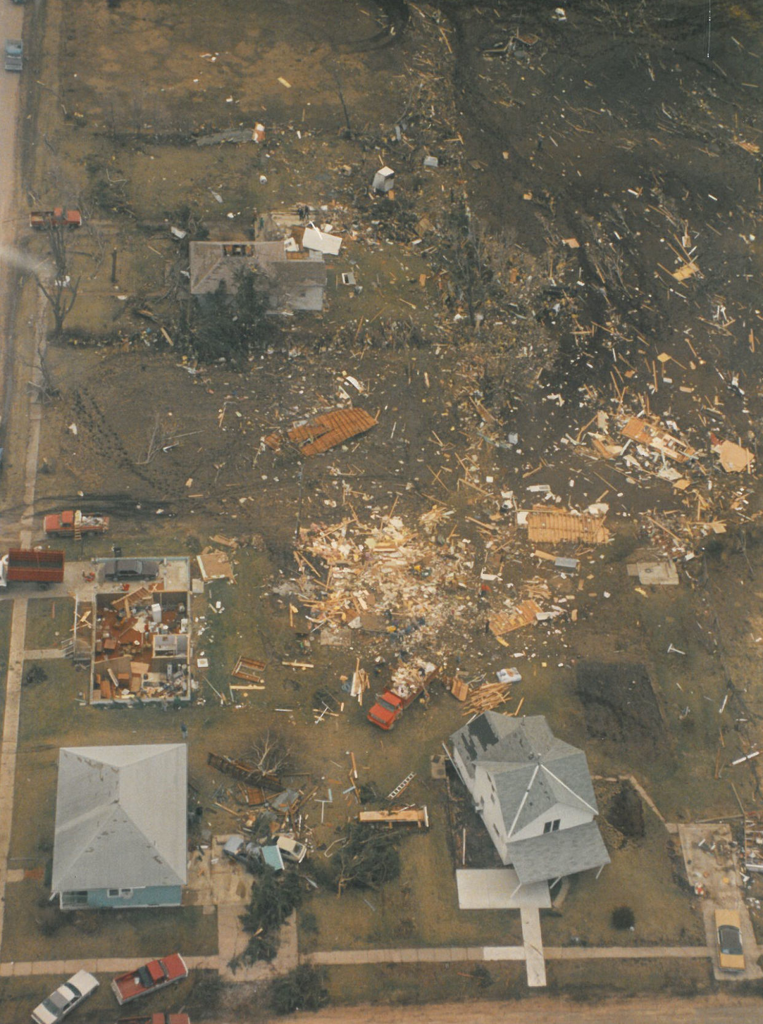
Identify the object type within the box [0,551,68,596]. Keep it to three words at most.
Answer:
truck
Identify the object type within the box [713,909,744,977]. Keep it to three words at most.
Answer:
car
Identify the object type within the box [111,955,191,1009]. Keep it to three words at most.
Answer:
truck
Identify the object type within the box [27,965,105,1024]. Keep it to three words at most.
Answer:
car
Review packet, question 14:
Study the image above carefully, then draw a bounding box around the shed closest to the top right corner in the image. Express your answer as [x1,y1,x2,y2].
[373,167,393,196]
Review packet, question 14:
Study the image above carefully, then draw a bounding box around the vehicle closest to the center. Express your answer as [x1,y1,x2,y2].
[368,656,448,735]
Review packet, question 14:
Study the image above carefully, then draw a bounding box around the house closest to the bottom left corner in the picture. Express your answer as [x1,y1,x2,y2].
[50,741,188,906]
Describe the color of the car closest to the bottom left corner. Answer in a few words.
white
